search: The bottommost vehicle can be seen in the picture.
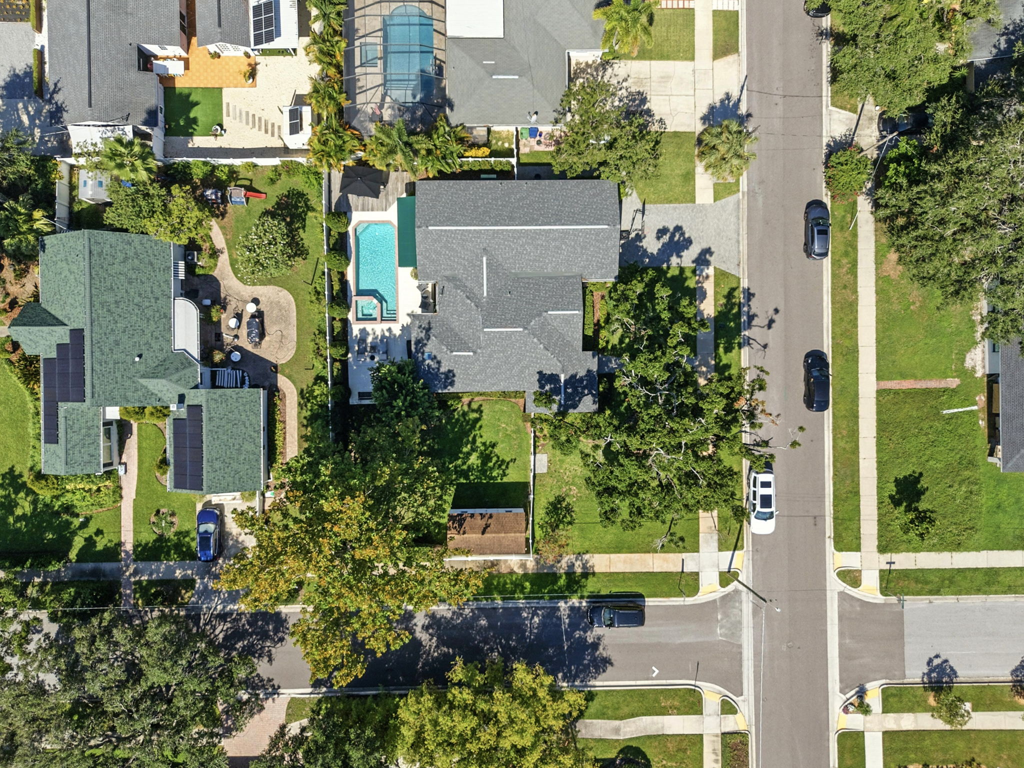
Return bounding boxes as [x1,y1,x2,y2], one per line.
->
[584,602,646,632]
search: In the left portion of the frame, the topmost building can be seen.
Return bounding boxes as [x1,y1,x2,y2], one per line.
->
[192,0,255,56]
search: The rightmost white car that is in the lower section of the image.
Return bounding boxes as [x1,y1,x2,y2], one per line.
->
[746,468,778,534]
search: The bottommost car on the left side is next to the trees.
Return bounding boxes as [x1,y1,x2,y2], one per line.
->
[192,503,223,563]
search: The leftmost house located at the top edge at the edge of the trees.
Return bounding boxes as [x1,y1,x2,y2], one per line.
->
[49,0,187,142]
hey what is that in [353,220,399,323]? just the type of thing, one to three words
swimming pool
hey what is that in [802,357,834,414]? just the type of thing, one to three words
car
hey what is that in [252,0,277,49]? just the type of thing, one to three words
solar array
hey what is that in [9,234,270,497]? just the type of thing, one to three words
house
